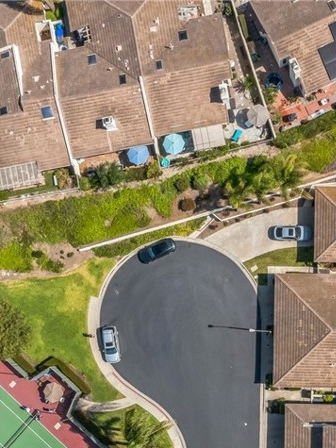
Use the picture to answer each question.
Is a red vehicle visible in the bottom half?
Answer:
No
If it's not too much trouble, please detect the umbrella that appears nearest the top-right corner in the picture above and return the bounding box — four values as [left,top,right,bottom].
[244,106,266,129]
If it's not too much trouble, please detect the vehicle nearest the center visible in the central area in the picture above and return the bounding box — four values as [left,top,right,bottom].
[138,236,177,263]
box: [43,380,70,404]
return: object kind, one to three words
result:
gazebo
